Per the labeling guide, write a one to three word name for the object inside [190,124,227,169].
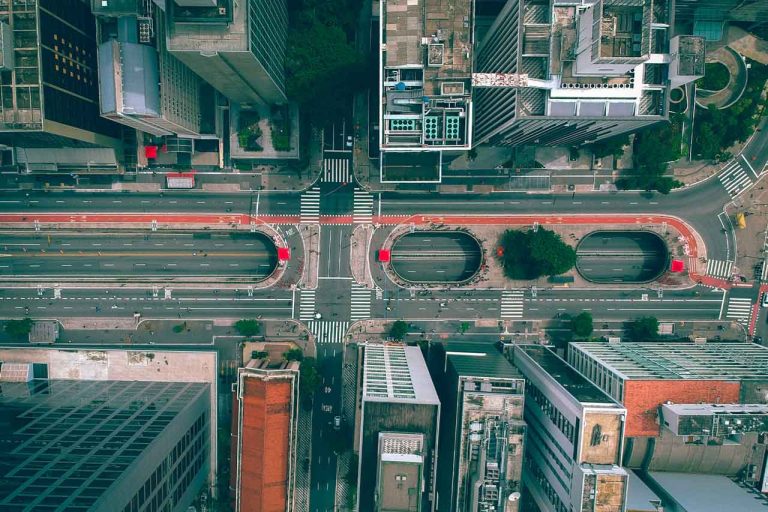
building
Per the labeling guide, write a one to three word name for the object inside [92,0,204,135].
building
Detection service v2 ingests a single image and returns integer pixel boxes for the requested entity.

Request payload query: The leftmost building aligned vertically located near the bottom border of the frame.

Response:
[228,345,305,512]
